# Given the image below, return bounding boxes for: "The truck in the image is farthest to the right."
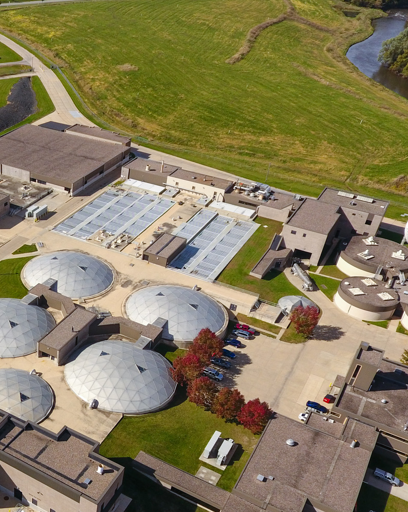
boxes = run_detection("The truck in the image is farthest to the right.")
[372,466,403,487]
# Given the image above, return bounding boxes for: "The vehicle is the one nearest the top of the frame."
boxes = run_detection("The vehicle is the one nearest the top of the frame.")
[292,256,313,288]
